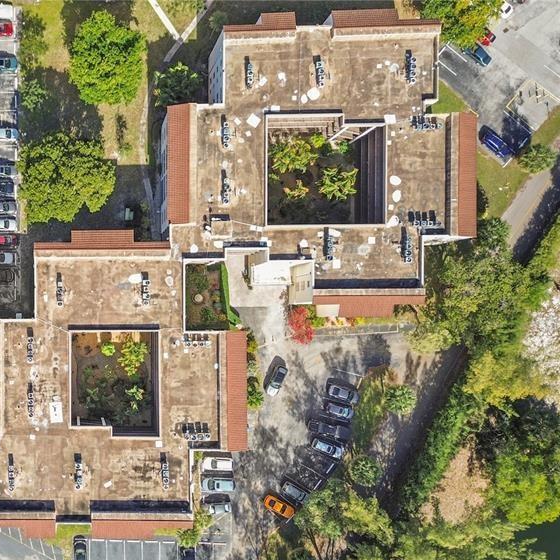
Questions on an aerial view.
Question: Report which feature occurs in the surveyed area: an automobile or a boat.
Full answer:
Of the two, only an automobile appears.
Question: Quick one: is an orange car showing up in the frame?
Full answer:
Yes, the frame does contain an orange car.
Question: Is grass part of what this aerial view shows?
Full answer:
Yes, the picture does contain grass.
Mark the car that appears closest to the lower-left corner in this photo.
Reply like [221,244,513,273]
[74,538,88,560]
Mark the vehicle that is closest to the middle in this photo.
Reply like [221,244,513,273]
[266,365,285,392]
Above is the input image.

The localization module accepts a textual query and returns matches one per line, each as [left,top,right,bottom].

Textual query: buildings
[0,228,248,541]
[159,6,480,318]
